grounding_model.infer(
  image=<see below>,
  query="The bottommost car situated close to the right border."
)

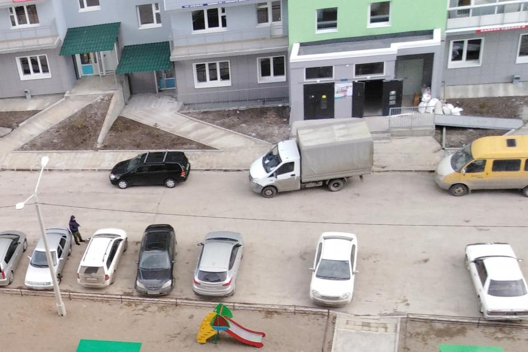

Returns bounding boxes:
[465,245,528,324]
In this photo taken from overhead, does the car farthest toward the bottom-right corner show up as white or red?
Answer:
white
